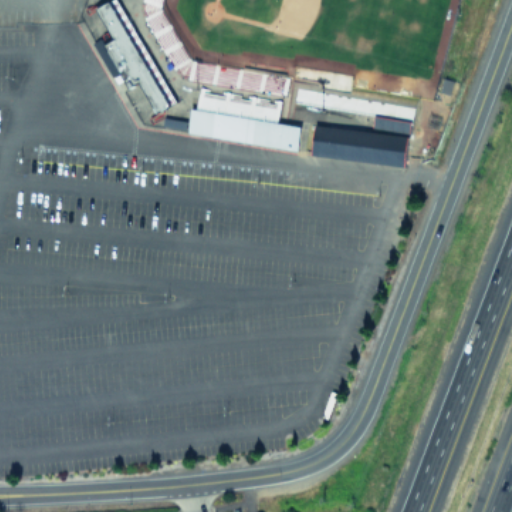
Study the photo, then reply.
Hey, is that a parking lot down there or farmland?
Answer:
parking lot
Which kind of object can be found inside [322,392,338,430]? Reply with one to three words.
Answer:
vehicle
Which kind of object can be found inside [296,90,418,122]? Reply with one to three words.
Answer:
building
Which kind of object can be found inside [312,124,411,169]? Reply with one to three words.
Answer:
building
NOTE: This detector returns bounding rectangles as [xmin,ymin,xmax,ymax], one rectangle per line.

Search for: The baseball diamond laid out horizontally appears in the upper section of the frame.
[164,0,460,99]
